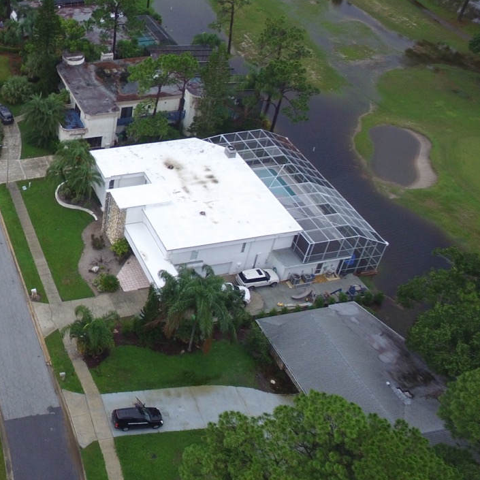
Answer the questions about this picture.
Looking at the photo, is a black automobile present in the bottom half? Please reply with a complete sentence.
Yes, I can see a black automobile in the bottom half.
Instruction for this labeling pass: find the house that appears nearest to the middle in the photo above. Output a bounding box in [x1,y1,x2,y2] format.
[92,138,341,294]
